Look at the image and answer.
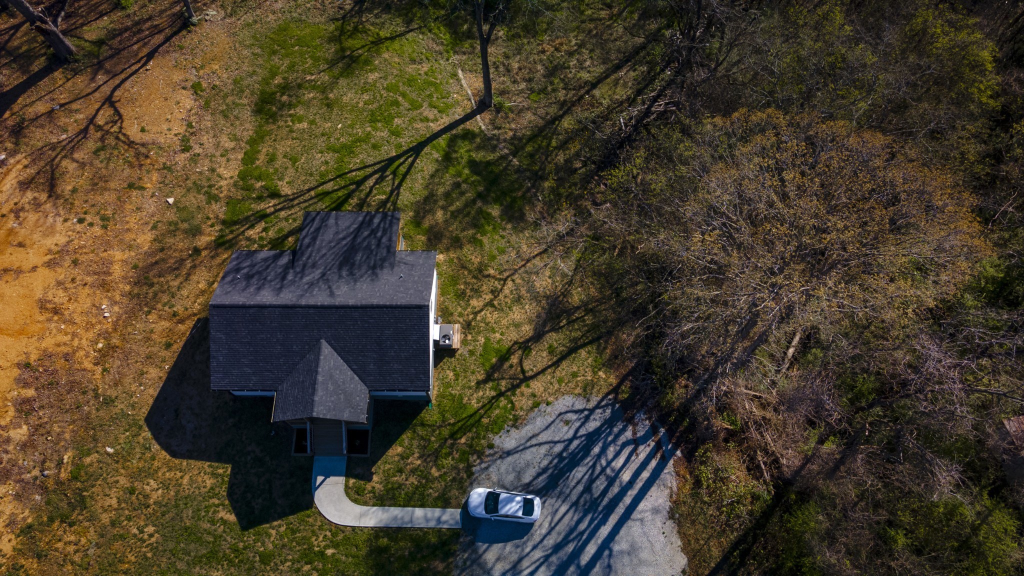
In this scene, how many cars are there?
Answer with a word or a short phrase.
one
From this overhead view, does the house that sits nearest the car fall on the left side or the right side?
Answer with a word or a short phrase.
left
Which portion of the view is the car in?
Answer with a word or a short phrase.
bottom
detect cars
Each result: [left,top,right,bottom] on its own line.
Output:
[468,485,541,523]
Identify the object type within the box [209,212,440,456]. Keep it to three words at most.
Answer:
house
